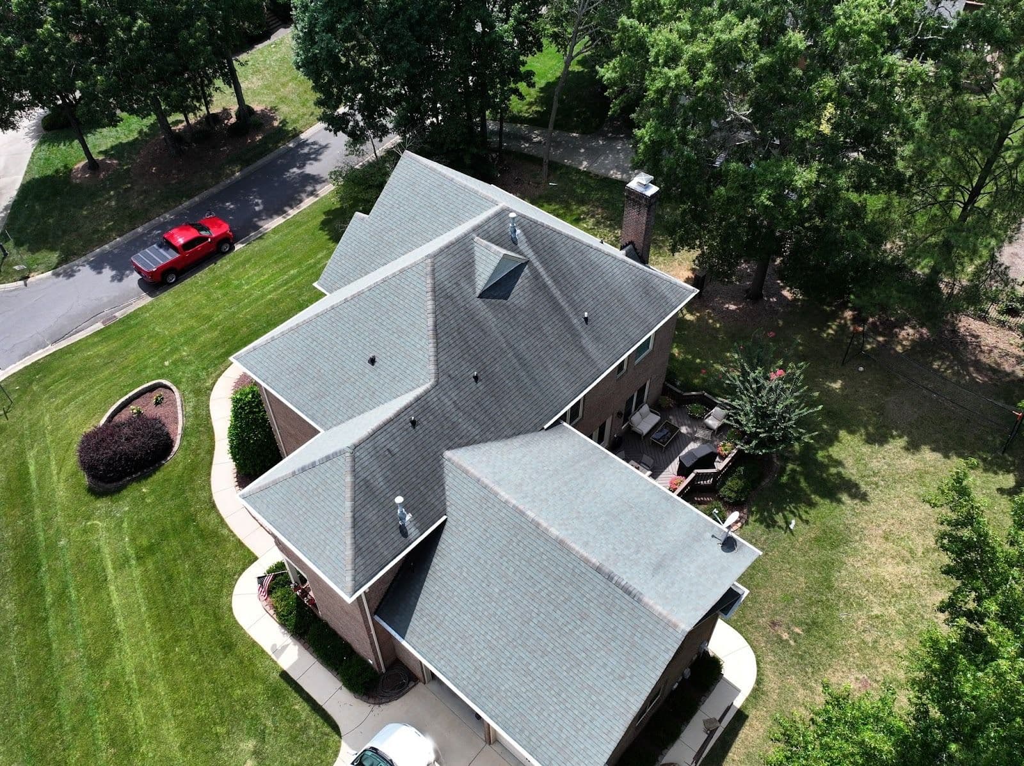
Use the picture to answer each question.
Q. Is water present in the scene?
No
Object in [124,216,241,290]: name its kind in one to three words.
truck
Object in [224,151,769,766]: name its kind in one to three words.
house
